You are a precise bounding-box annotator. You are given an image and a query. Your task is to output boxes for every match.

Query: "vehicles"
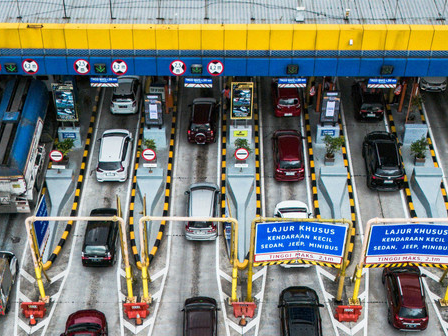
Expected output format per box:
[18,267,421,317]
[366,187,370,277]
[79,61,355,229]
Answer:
[97,130,132,182]
[0,74,61,214]
[416,76,446,93]
[82,204,120,267]
[271,80,301,117]
[271,132,306,182]
[0,245,24,316]
[186,97,218,142]
[364,134,403,190]
[352,78,384,121]
[111,76,142,114]
[279,287,325,336]
[382,270,427,332]
[62,309,107,336]
[179,293,222,336]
